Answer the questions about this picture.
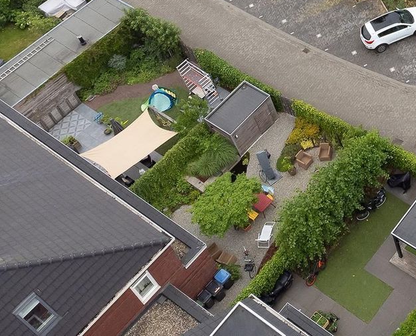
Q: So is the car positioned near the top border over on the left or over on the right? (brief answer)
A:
right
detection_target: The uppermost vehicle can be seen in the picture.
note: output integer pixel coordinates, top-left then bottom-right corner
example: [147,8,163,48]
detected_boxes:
[359,8,416,55]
